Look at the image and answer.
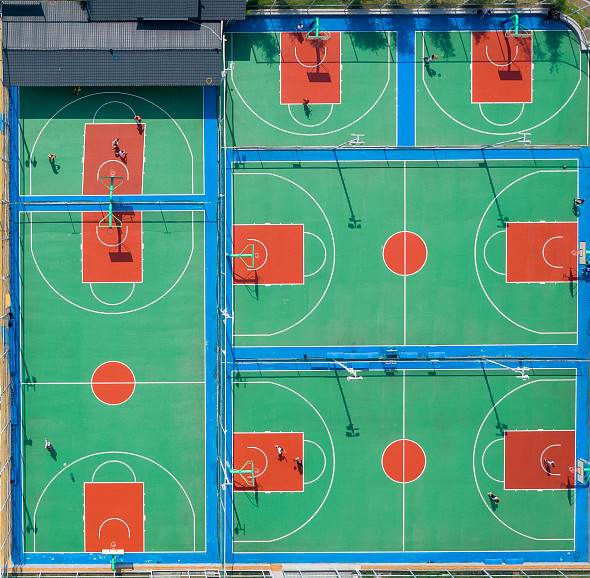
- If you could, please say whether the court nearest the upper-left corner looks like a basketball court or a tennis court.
basketball court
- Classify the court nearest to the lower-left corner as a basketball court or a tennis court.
basketball court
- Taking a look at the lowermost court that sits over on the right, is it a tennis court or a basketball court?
basketball court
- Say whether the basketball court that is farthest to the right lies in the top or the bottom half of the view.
top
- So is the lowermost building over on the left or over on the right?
left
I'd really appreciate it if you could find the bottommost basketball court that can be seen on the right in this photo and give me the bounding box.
[232,368,576,553]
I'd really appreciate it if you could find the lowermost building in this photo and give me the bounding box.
[0,20,223,86]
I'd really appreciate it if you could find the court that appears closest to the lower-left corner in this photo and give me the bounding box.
[19,210,206,553]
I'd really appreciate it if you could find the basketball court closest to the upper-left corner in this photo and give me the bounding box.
[18,85,205,196]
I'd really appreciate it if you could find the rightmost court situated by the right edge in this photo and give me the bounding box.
[415,29,590,148]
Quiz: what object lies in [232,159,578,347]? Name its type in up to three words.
basketball court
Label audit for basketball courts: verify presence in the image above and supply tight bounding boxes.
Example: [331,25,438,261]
[18,85,205,196]
[232,368,576,553]
[232,159,578,347]
[19,210,206,553]
[415,29,590,148]
[223,31,398,149]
